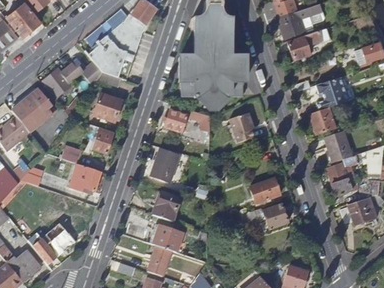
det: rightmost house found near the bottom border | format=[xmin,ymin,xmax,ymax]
[282,264,310,288]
